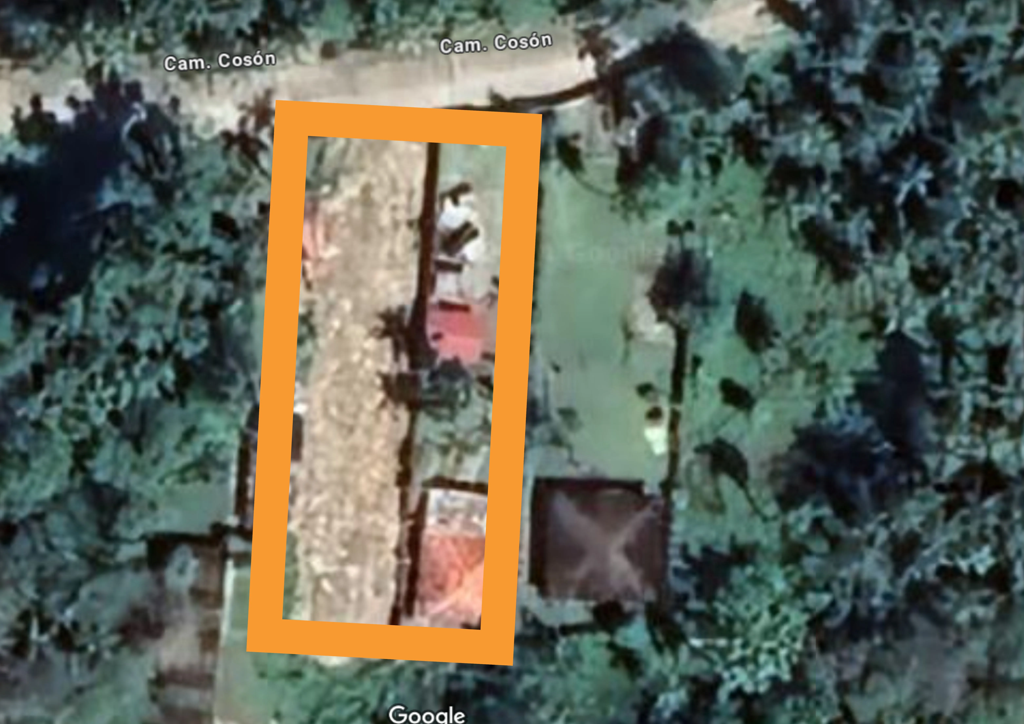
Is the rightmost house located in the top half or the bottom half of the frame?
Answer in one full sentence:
Seen from above, the rightmost house lies in the bottom half of the view.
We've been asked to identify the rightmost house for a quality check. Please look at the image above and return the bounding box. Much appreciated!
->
[540,485,669,602]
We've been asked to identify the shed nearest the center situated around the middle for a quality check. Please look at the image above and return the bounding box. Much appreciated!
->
[431,305,490,362]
